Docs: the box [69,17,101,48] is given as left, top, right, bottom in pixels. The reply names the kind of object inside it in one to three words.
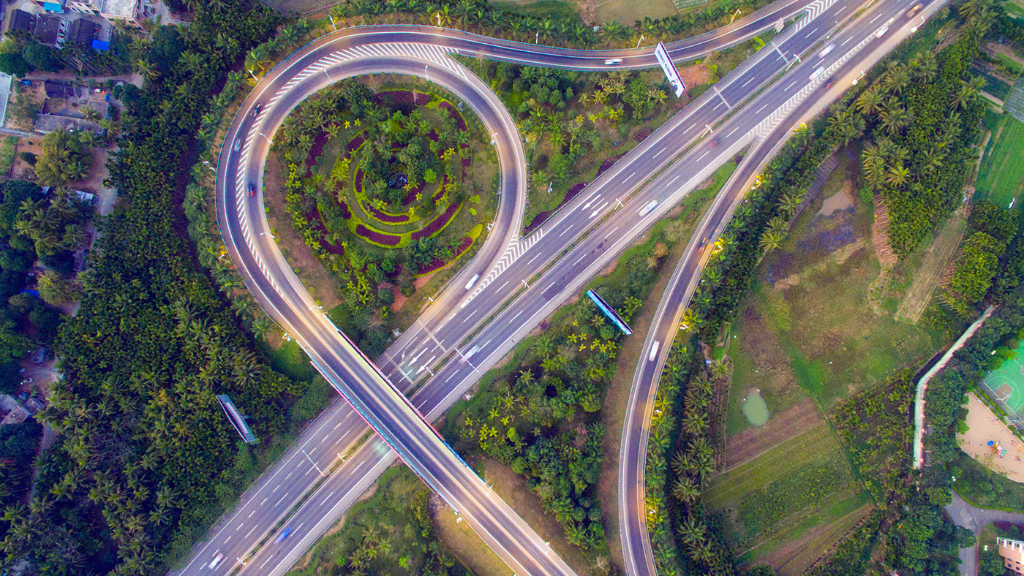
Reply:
house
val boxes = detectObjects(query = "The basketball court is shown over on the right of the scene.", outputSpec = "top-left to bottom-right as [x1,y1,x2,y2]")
[977,330,1024,422]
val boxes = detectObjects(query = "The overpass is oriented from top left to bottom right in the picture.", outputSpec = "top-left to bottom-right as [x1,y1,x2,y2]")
[307,329,470,492]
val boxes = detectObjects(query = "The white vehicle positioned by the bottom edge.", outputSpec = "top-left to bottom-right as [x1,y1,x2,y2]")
[208,553,222,569]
